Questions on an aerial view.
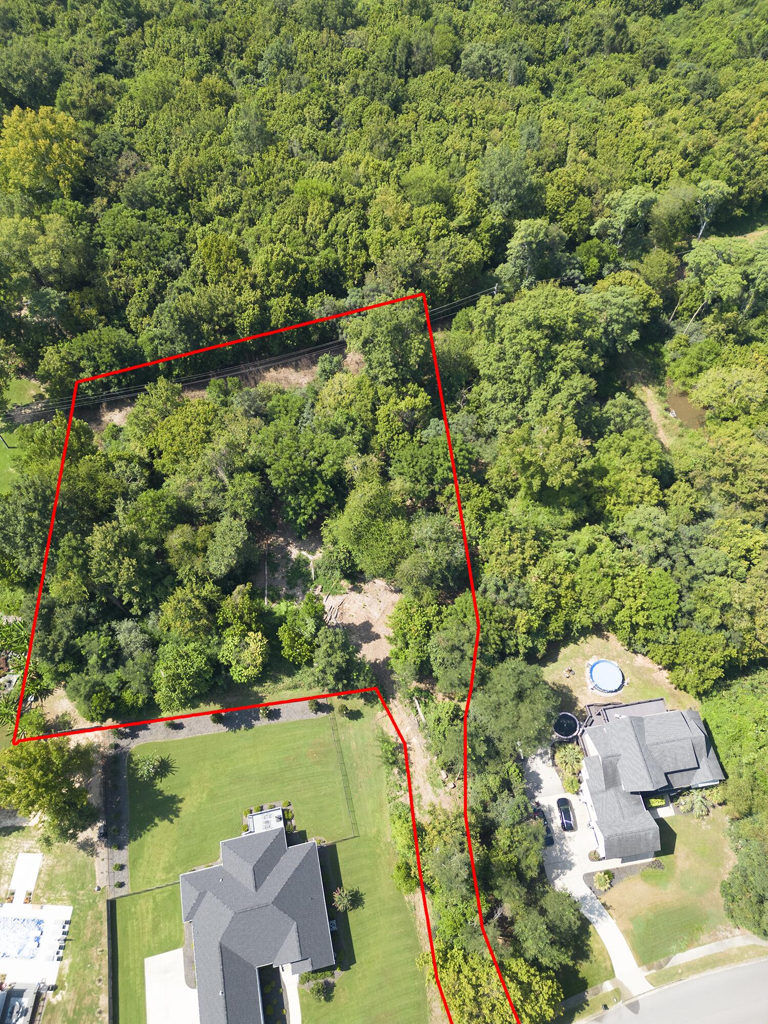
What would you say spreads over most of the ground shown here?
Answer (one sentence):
The largest share of the image is taken up by trees.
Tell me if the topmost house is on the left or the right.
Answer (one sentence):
The topmost house sits on the right side.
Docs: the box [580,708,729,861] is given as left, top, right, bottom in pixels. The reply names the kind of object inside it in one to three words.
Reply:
house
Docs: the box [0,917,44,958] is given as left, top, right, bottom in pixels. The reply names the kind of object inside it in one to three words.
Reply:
swimming pool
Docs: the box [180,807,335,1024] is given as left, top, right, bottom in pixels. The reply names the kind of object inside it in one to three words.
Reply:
house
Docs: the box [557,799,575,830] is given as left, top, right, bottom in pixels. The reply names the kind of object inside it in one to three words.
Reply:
car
